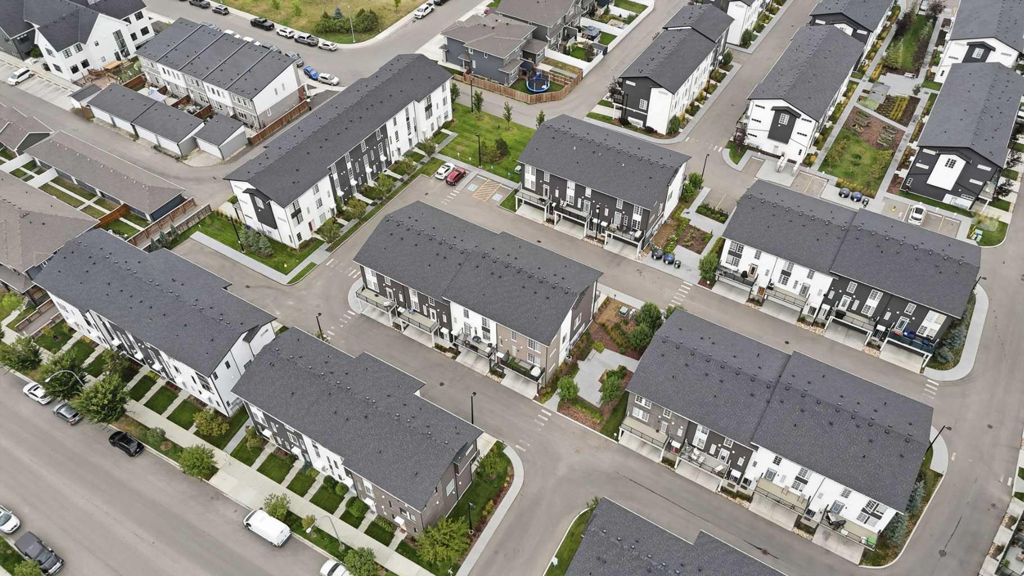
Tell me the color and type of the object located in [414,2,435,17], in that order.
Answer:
white vehicle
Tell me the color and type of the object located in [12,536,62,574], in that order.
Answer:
gray truck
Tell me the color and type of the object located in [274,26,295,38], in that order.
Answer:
white vehicle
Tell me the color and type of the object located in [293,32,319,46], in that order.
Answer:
gray vehicle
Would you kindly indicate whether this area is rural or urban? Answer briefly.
urban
